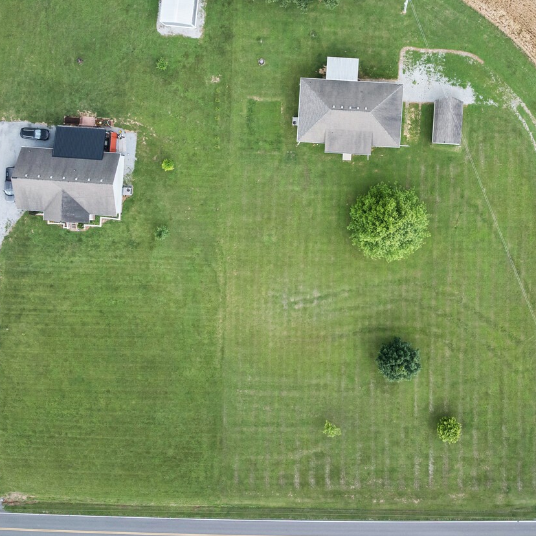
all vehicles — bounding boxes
[18,126,49,141]
[3,166,15,199]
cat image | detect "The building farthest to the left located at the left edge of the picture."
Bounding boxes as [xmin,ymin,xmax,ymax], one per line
[11,125,124,230]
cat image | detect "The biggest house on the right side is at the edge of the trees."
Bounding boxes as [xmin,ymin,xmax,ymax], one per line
[296,57,409,160]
